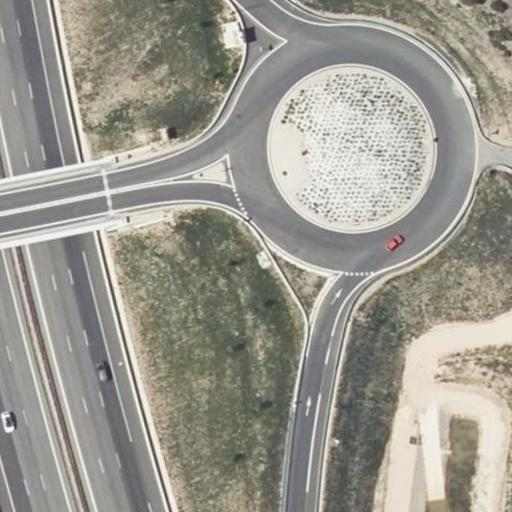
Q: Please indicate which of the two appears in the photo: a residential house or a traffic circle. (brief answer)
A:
traffic circle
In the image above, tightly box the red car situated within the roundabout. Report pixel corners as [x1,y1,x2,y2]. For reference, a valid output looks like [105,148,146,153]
[386,234,405,250]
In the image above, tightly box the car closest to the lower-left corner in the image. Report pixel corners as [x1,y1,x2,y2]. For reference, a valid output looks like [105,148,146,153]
[2,410,14,434]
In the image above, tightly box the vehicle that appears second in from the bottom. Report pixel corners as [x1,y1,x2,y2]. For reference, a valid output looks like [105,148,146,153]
[97,361,110,383]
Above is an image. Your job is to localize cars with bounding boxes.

[2,410,14,434]
[97,361,110,383]
[386,234,405,250]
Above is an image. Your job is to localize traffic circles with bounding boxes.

[228,24,482,275]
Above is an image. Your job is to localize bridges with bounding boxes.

[0,157,129,248]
